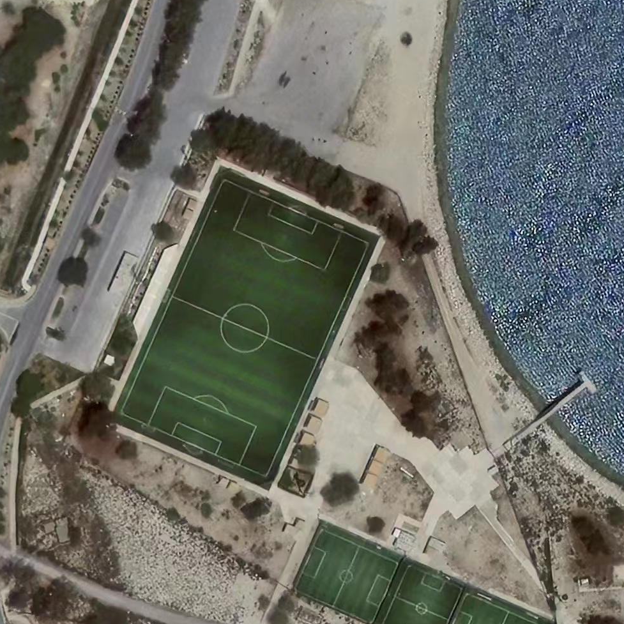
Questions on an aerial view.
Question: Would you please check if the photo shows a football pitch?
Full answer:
Yes, this view includes a football pitch.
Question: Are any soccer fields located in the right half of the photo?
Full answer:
Yes, a soccer field can be seen in the right half of the photo.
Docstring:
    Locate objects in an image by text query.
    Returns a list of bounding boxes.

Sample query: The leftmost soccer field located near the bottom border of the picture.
[295,520,404,624]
